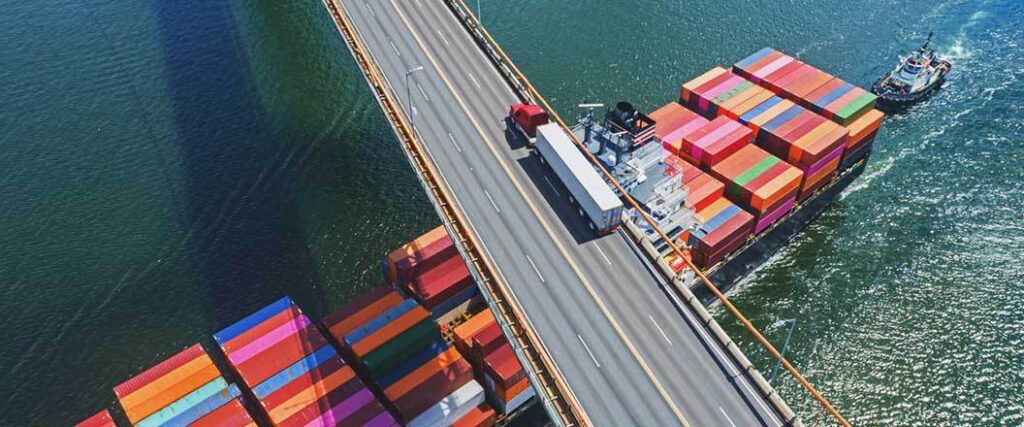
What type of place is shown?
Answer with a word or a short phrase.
port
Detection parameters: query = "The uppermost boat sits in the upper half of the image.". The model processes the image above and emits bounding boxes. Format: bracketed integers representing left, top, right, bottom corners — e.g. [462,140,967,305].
[870,27,954,103]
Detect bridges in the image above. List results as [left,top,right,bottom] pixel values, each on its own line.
[320,0,854,427]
